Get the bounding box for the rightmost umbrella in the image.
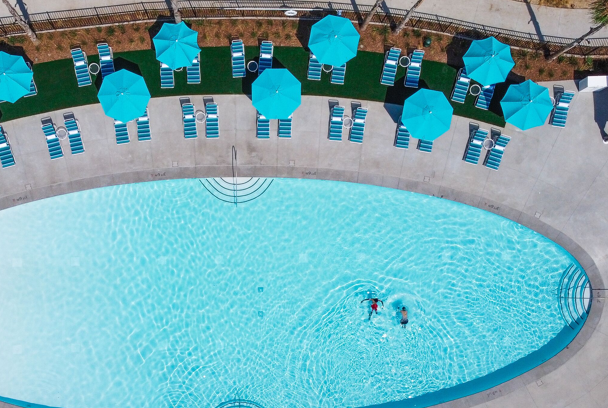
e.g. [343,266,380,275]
[501,79,553,130]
